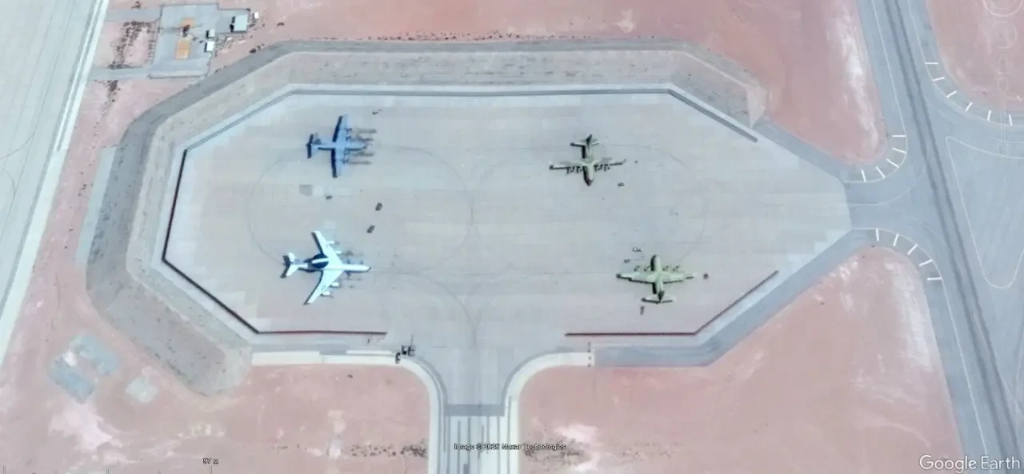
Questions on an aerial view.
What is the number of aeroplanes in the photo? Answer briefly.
4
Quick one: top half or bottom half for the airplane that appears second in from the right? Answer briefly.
top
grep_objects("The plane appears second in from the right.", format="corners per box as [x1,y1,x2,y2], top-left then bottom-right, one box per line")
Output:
[551,134,626,186]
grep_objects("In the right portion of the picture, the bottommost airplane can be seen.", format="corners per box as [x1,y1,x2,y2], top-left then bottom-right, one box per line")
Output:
[621,255,696,304]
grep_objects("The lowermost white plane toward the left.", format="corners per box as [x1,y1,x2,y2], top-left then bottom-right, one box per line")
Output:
[286,231,370,303]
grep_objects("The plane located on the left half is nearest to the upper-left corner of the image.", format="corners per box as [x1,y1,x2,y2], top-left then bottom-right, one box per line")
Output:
[307,116,365,178]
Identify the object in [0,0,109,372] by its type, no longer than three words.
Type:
runway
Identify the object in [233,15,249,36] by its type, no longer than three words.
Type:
building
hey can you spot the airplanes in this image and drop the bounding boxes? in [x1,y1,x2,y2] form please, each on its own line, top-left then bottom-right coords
[551,134,626,186]
[621,255,696,304]
[286,231,370,303]
[307,116,365,178]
